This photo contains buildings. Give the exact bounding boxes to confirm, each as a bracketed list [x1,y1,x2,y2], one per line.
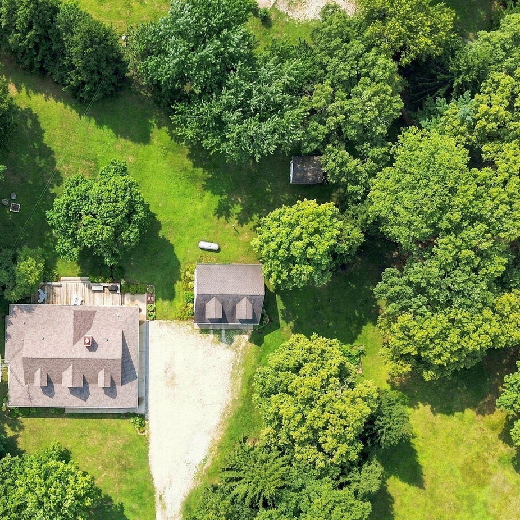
[289,156,327,184]
[193,264,265,323]
[6,304,138,408]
